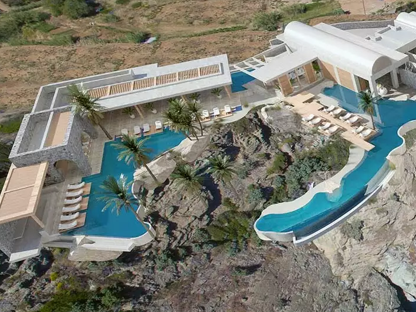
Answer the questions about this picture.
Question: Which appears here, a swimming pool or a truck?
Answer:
swimming pool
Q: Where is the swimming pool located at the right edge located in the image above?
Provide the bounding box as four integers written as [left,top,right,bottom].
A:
[253,85,416,245]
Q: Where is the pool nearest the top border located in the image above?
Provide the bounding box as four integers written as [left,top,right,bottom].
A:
[230,68,253,93]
